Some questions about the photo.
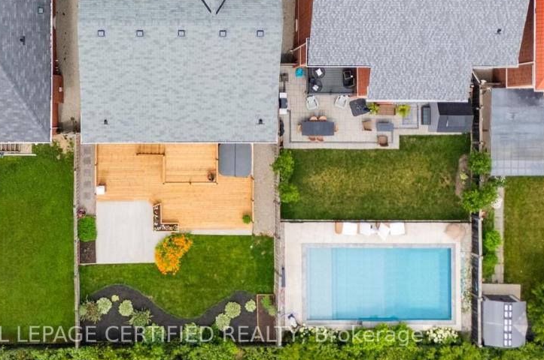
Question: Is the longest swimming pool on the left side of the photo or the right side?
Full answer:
The longest swimming pool is on the right side of the image.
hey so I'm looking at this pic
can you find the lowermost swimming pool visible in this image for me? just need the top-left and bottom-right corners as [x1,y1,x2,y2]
[302,244,456,325]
